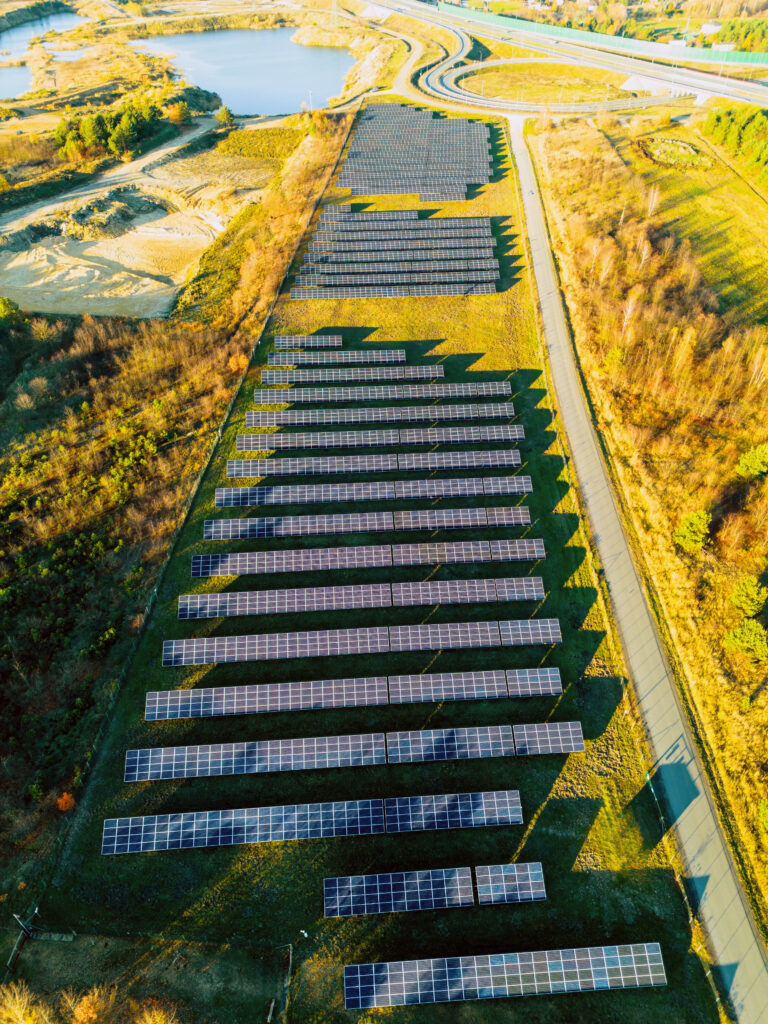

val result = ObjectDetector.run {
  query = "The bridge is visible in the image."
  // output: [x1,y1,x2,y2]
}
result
[619,75,716,105]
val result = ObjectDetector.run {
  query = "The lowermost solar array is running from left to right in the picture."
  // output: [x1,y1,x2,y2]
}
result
[345,942,666,1011]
